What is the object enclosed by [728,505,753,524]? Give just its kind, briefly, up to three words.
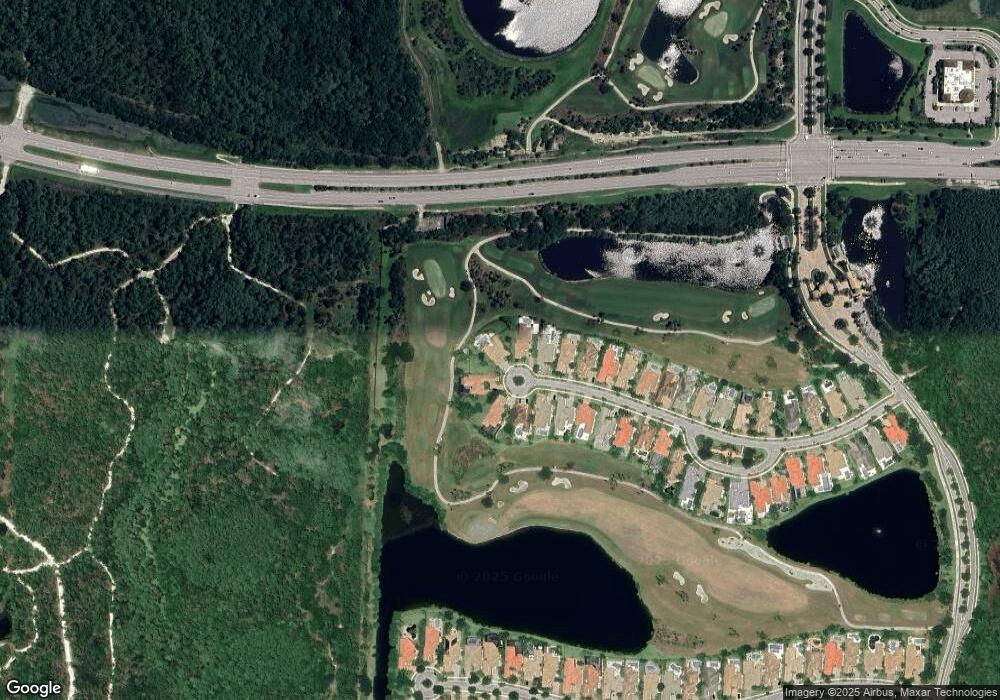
swimming pool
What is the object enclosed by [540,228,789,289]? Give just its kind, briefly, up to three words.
pond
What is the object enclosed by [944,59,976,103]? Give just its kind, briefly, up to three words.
building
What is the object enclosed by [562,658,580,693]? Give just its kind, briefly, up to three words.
house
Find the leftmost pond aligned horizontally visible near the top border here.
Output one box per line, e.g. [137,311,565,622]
[463,0,600,57]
